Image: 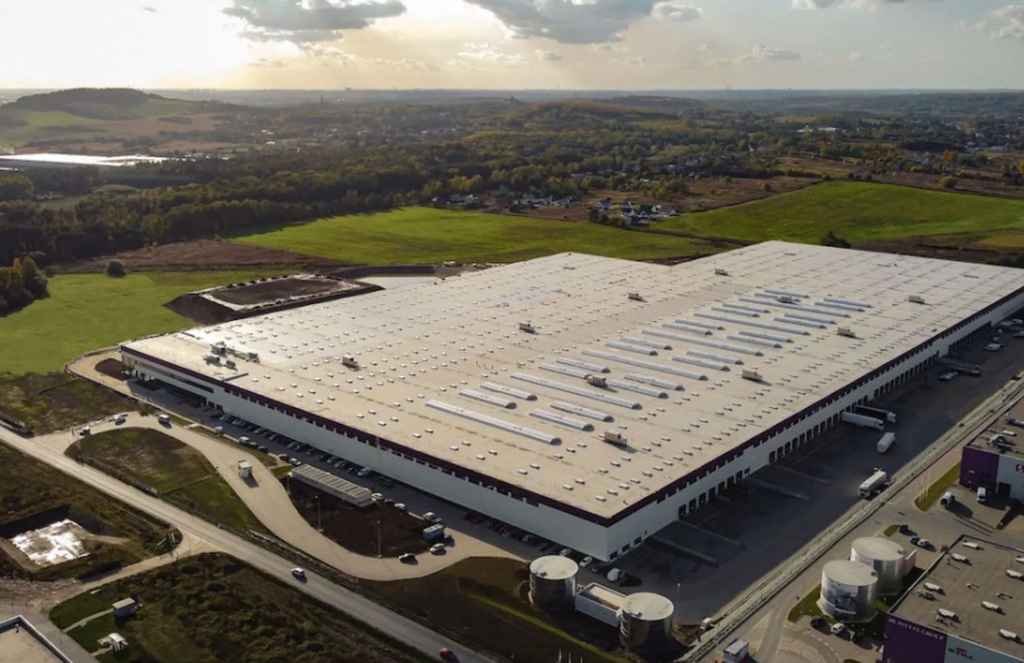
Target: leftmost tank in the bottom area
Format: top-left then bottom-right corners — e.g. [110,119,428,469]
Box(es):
[526,556,578,611]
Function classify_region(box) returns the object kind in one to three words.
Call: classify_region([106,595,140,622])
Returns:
shed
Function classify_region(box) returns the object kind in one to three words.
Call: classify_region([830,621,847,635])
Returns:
car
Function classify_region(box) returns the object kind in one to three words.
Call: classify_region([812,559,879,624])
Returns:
storage tank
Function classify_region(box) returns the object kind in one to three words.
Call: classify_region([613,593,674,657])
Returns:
storage tank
